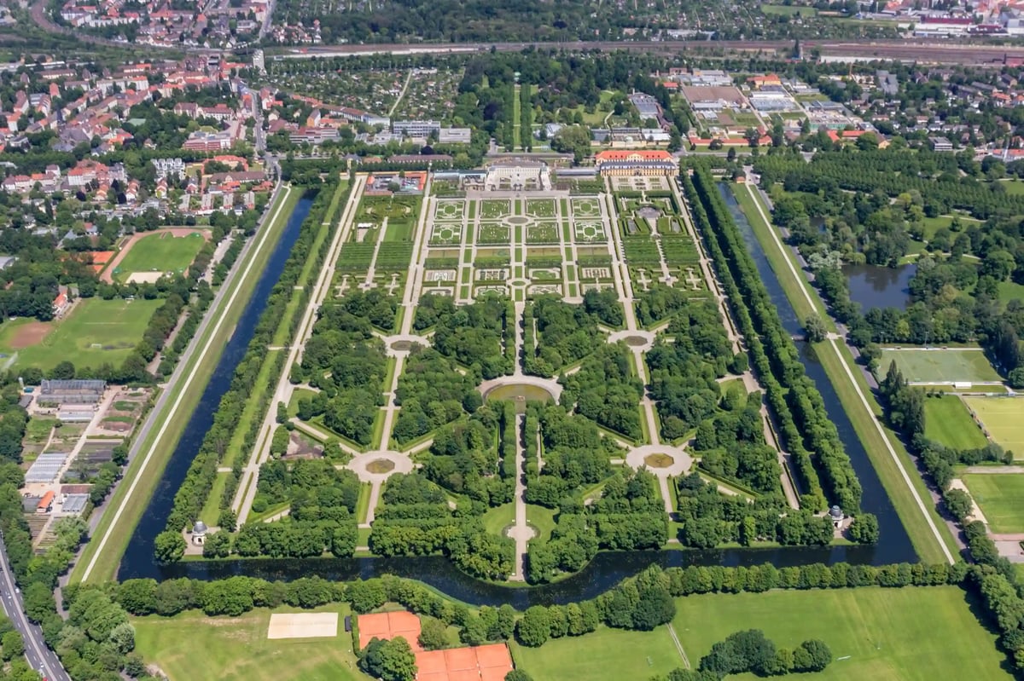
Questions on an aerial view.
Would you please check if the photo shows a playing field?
Yes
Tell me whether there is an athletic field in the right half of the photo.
Yes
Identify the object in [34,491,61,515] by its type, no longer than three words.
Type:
house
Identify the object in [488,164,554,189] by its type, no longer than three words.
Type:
building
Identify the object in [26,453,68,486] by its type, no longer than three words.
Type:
greenhouse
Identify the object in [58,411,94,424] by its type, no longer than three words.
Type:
greenhouse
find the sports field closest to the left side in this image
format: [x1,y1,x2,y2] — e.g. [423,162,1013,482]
[0,299,160,372]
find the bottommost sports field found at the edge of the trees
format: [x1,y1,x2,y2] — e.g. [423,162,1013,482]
[964,396,1024,458]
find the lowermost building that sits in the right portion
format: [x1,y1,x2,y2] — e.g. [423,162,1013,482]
[828,506,846,531]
